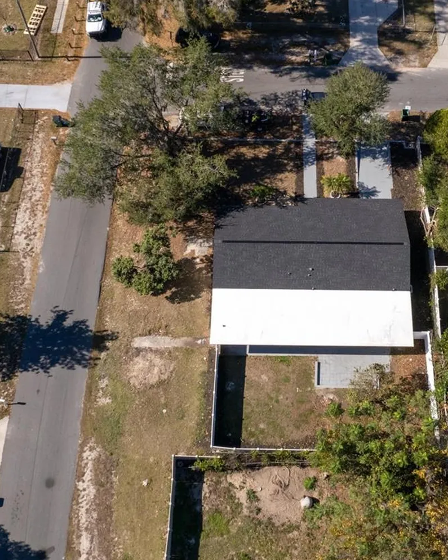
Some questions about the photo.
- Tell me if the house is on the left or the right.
right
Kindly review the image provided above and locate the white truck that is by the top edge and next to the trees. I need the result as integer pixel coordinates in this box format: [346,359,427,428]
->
[82,0,109,38]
